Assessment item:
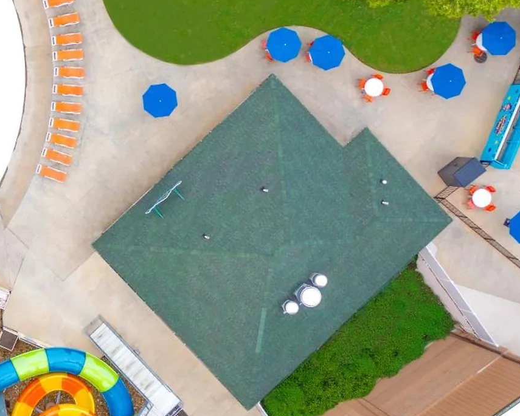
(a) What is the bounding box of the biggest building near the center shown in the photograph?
[92,75,452,410]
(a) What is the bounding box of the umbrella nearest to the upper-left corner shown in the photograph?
[140,83,177,119]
